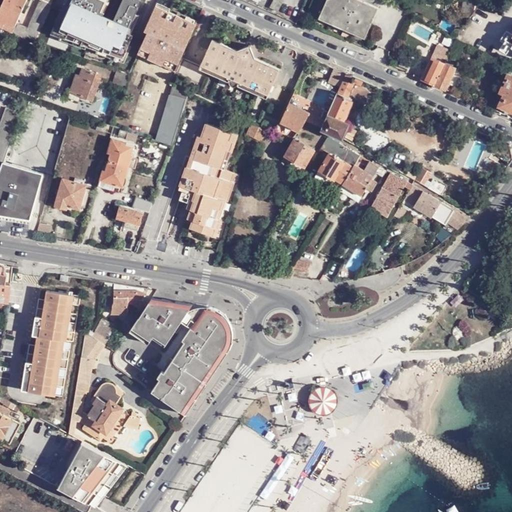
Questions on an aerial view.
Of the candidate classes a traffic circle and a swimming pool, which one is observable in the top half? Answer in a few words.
swimming pool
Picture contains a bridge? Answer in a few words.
No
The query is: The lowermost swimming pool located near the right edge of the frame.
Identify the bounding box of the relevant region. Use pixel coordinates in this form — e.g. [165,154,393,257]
[460,138,488,172]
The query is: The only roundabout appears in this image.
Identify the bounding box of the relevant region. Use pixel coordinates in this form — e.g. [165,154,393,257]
[262,308,298,344]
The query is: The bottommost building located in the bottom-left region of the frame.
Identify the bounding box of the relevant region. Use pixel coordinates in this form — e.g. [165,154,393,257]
[58,440,127,508]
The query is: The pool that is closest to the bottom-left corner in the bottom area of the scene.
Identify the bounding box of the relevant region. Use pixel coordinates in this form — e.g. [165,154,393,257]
[132,428,154,455]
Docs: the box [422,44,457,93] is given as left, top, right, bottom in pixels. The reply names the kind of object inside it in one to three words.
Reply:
house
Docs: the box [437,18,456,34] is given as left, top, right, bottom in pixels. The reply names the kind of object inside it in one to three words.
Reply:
swimming pool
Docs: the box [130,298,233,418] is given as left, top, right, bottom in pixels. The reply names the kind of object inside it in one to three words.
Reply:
building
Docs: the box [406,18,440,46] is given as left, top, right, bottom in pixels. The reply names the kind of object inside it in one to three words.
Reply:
swimming pool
